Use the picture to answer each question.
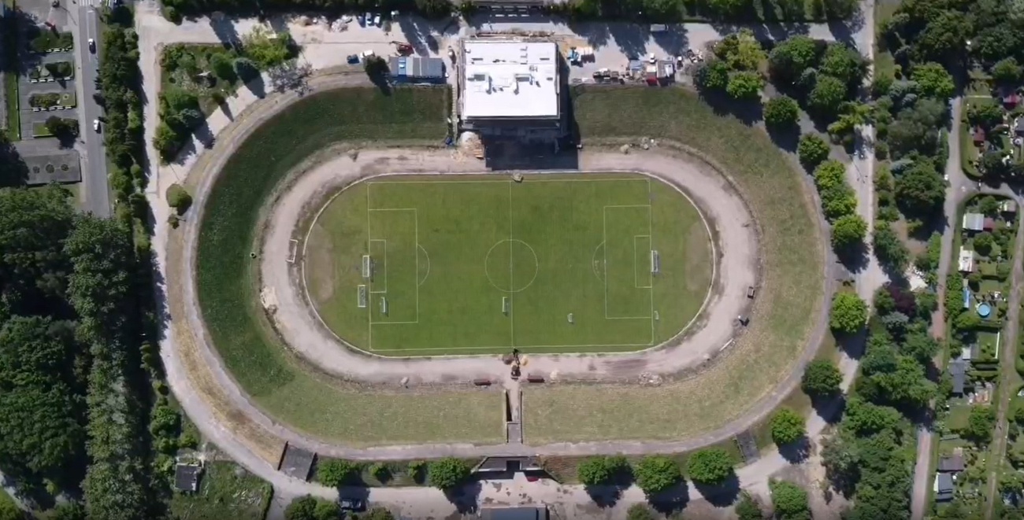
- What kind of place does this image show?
sports ground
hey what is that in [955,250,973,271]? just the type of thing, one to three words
shed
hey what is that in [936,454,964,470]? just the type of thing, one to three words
shed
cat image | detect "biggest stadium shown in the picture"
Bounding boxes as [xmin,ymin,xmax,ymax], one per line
[183,74,834,459]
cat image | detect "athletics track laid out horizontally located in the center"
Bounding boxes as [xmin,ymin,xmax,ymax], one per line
[260,146,761,387]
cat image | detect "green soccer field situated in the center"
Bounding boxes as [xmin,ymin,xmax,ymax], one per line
[304,172,714,358]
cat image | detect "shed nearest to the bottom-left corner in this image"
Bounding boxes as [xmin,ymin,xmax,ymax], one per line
[174,462,201,492]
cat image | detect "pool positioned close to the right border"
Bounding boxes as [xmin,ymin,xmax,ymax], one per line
[975,304,992,318]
